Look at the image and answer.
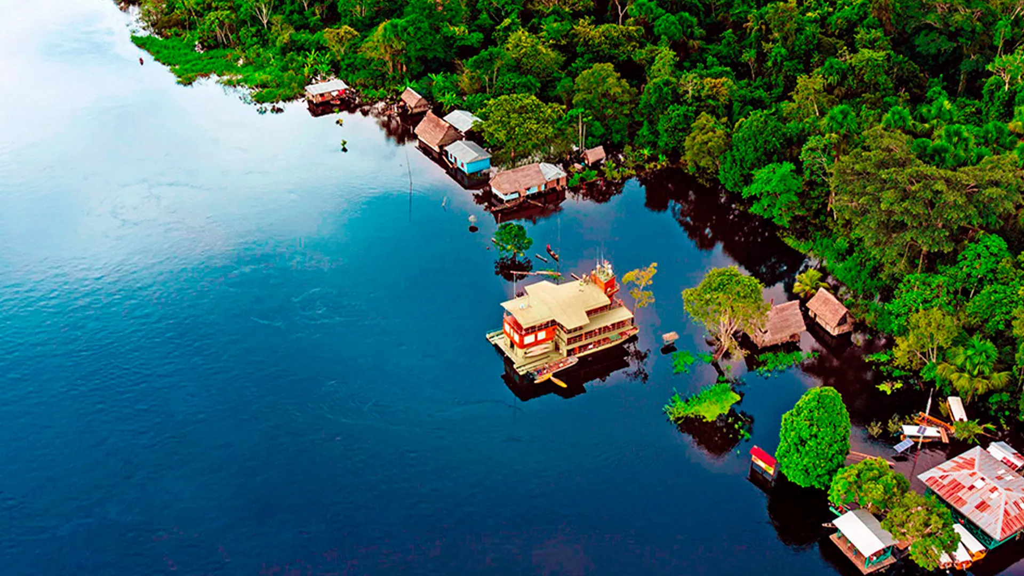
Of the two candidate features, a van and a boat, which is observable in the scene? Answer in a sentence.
I can see a boat in this picture.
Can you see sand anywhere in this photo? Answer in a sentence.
No, there is no sand in the image.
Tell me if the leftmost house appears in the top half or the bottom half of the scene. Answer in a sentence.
The leftmost house sits in the top half of the picture.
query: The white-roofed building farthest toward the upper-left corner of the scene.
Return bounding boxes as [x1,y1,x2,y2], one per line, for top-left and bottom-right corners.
[306,81,353,105]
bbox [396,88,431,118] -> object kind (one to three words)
shed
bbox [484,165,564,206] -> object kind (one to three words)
house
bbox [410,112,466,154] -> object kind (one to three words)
shed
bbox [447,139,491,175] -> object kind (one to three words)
house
